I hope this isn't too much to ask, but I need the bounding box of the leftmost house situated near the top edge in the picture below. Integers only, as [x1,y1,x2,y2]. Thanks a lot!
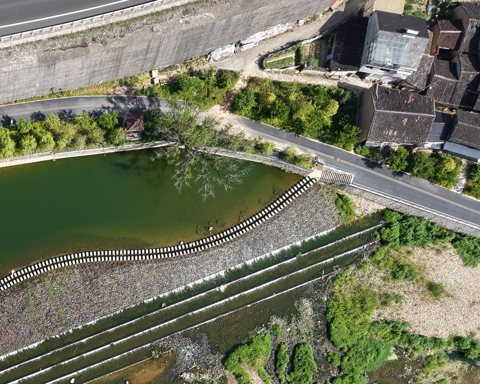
[324,16,371,80]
